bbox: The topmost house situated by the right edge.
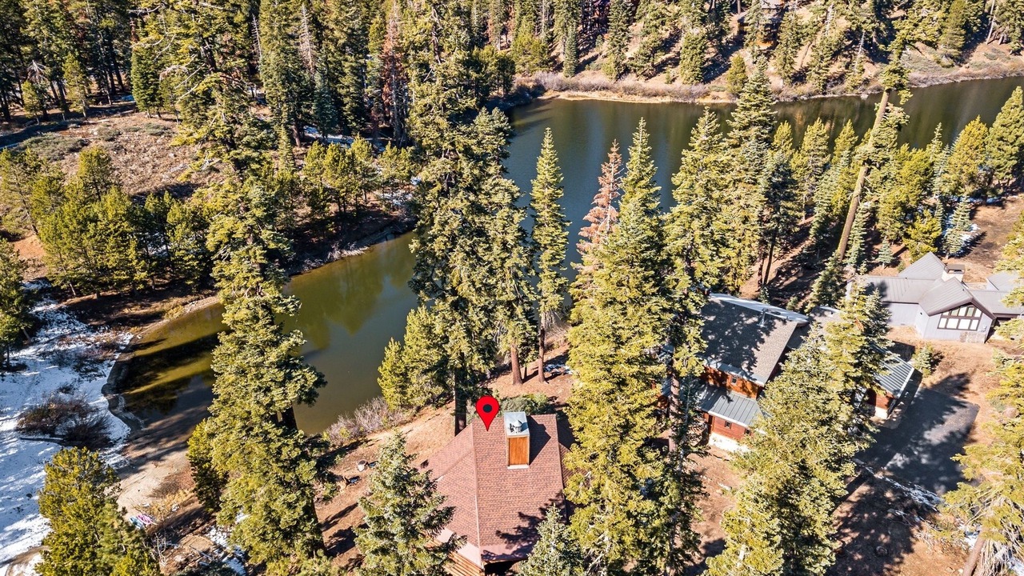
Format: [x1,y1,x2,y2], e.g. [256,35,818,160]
[849,248,1024,342]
